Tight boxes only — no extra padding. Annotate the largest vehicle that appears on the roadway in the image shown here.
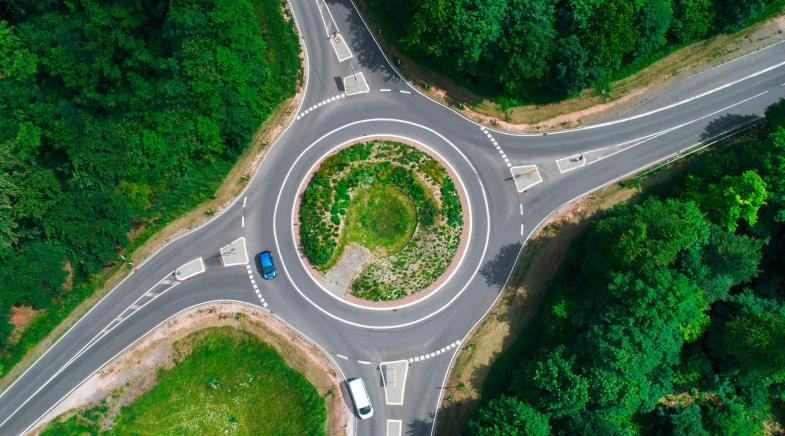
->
[349,377,373,421]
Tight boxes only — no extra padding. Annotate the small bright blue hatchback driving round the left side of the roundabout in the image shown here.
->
[259,249,276,279]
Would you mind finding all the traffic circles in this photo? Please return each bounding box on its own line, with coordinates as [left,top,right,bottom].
[242,58,521,362]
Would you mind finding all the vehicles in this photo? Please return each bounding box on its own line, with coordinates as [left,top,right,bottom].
[259,249,276,279]
[349,377,373,421]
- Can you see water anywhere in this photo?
No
